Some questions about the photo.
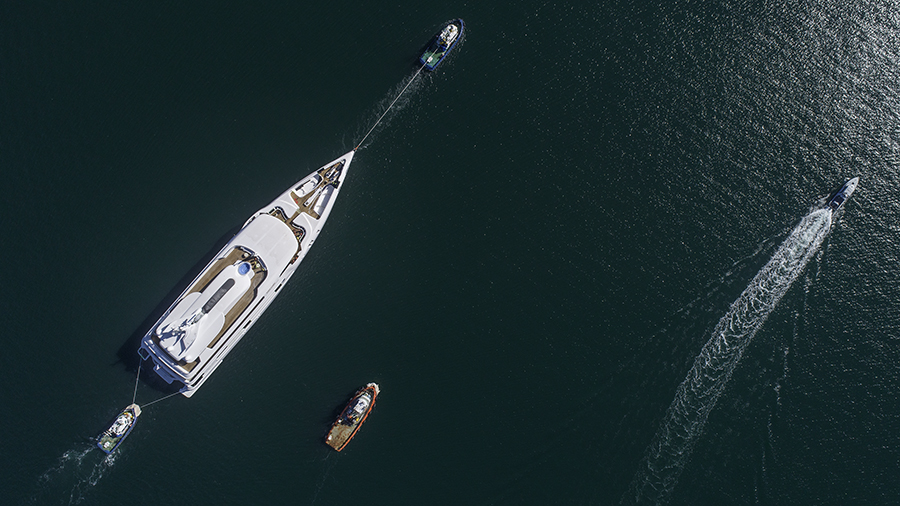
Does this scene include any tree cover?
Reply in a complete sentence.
No, the picture contains no tree cover.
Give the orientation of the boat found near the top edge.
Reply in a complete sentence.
The boat found near the top edge is oriented diagonally.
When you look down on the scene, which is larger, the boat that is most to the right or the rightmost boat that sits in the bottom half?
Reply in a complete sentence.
Compared with the boat that is most to the right, the rightmost boat that sits in the bottom half is the larger one.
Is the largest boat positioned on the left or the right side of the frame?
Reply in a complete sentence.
The largest boat is on the left side of the image.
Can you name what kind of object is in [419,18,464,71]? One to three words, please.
boat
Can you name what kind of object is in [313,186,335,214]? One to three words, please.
boat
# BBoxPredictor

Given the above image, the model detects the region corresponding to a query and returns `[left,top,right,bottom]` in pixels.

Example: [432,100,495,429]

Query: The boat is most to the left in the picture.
[98,404,139,453]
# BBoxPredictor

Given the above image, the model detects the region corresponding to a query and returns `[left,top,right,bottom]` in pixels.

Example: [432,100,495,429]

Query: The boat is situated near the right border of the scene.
[827,177,860,211]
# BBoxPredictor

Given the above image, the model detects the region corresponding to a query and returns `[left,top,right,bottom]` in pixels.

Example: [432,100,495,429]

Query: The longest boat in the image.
[139,150,355,397]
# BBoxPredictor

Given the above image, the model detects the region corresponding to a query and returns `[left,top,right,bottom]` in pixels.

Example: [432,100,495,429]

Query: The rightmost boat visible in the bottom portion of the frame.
[326,384,378,452]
